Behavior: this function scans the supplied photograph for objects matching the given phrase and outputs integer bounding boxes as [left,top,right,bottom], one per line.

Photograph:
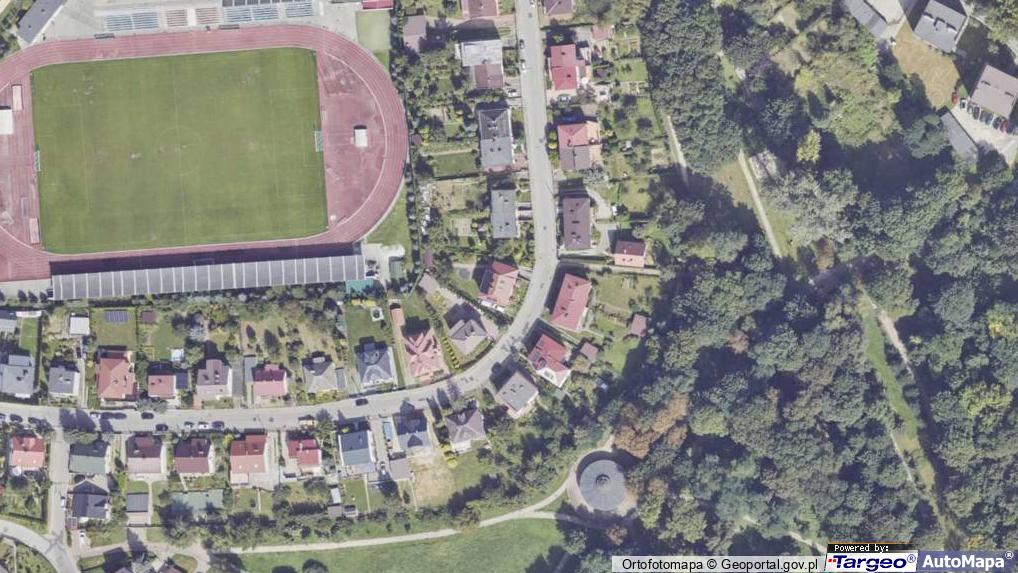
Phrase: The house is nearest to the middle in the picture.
[482,261,522,305]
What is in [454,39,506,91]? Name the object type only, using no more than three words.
house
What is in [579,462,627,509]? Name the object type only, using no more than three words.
building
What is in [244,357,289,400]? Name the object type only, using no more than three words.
house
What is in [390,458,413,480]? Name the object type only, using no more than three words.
building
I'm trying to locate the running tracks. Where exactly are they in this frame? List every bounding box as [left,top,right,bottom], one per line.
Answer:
[0,24,412,282]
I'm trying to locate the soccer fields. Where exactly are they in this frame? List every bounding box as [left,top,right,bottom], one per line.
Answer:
[32,49,328,252]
